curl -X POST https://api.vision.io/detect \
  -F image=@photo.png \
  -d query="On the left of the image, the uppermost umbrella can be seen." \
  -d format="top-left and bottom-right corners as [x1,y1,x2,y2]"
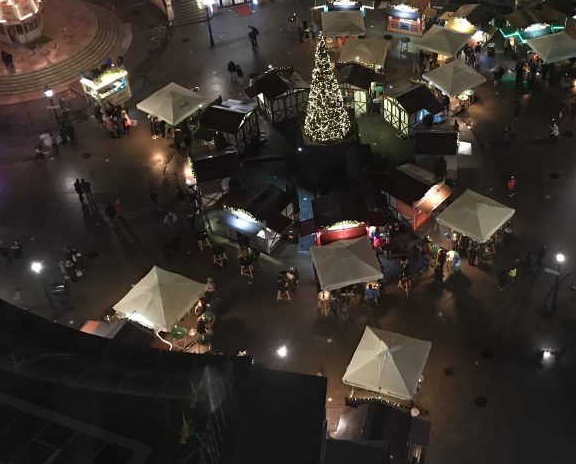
[135,84,208,135]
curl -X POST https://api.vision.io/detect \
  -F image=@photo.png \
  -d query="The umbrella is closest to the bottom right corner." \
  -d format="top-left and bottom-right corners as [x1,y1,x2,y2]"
[343,326,432,402]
